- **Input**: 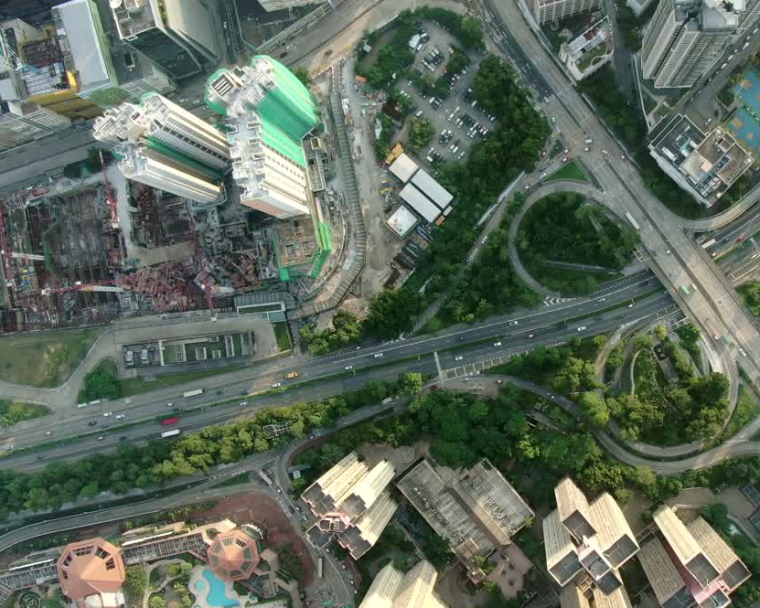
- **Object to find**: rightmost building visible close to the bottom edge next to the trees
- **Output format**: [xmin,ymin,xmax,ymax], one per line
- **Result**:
[640,510,751,608]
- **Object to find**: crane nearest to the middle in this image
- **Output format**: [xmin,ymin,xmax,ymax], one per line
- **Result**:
[191,216,233,322]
